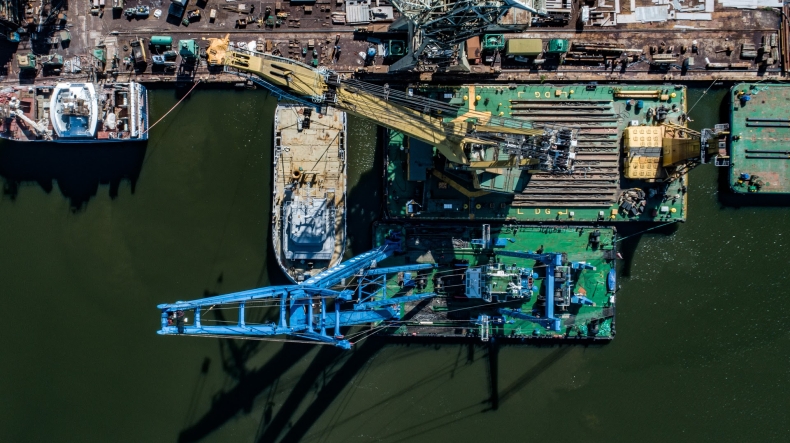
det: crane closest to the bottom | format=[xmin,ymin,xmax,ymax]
[153,222,618,350]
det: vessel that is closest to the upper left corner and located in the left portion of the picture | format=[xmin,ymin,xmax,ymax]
[0,82,148,143]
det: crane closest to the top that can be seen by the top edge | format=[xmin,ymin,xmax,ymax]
[359,0,559,74]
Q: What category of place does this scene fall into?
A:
port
